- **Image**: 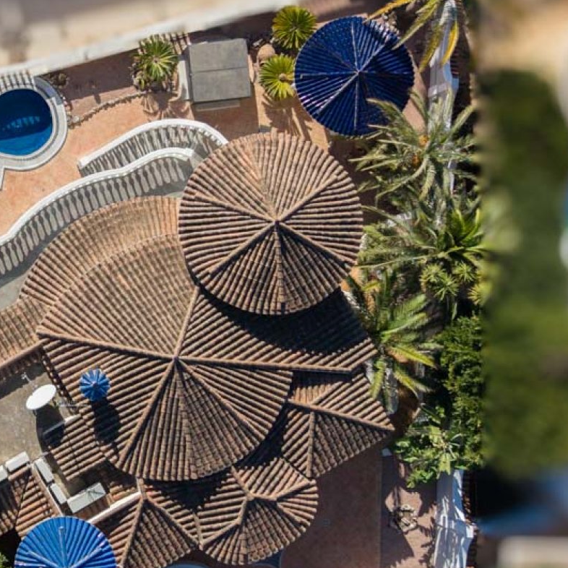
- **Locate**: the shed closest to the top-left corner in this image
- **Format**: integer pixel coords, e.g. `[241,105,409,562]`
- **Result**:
[177,38,252,114]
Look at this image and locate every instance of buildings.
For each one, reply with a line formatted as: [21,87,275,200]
[0,130,397,568]
[177,38,252,114]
